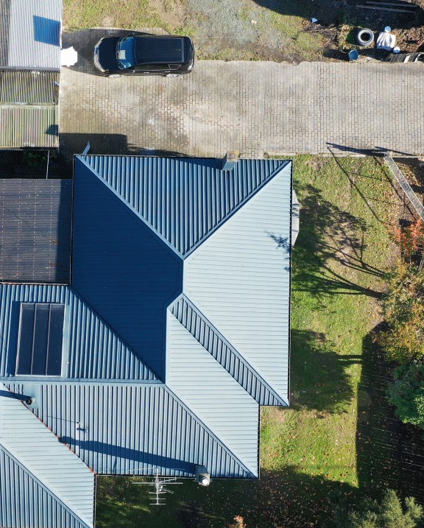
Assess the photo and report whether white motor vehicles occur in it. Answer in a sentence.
No, the frame has no white motor vehicle in it.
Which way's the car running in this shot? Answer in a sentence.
What the image shows is the car lying from left to right.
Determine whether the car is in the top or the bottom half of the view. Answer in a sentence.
It is in the top half that the car appears.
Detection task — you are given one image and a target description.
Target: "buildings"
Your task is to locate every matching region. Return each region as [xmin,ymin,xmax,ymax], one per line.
[0,145,297,528]
[0,0,62,155]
